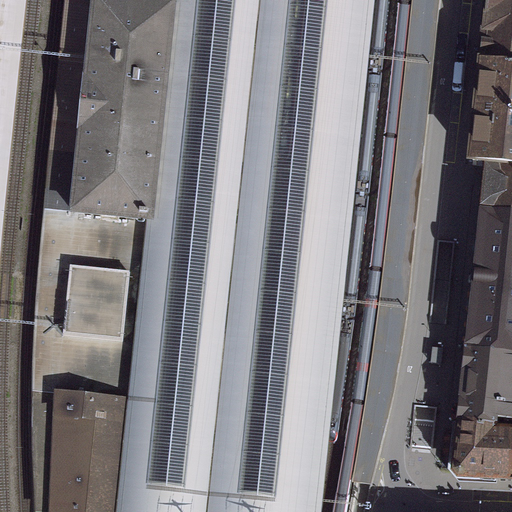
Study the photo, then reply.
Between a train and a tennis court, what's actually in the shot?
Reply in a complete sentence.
It is a train that can be seen here.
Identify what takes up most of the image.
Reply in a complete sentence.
What you mostly see from above here is buildings.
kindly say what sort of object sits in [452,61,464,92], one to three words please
vehicle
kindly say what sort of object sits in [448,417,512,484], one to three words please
building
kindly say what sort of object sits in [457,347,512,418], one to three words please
building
